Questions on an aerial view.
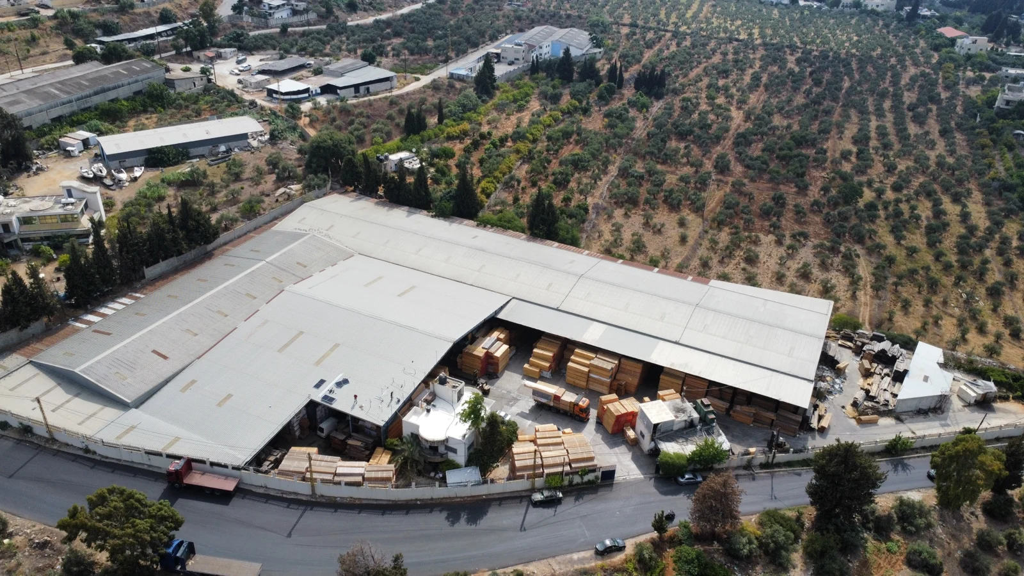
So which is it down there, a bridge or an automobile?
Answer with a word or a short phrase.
automobile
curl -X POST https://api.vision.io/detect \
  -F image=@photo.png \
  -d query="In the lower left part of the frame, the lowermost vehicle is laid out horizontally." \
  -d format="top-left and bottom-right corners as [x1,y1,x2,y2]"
[164,542,261,576]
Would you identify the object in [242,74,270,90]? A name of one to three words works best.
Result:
house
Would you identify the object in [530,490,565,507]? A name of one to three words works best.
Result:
car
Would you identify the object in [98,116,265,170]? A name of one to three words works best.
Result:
shed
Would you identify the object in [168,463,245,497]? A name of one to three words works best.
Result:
truck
